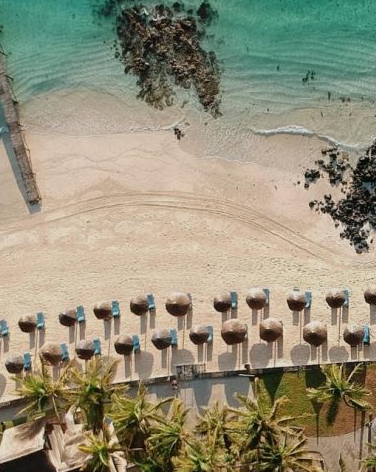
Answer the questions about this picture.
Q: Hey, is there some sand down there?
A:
Yes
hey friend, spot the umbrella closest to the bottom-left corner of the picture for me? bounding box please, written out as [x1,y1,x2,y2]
[7,355,27,374]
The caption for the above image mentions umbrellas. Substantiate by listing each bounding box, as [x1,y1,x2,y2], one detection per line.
[327,288,346,307]
[131,296,149,315]
[190,325,210,344]
[153,330,172,349]
[116,335,135,354]
[344,326,364,345]
[60,308,77,326]
[222,319,247,344]
[214,294,231,312]
[247,289,267,308]
[261,318,283,341]
[304,322,327,344]
[20,313,38,331]
[42,342,63,363]
[96,302,113,319]
[288,291,307,309]
[77,340,96,360]
[7,355,27,374]
[167,292,190,315]
[364,285,376,306]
